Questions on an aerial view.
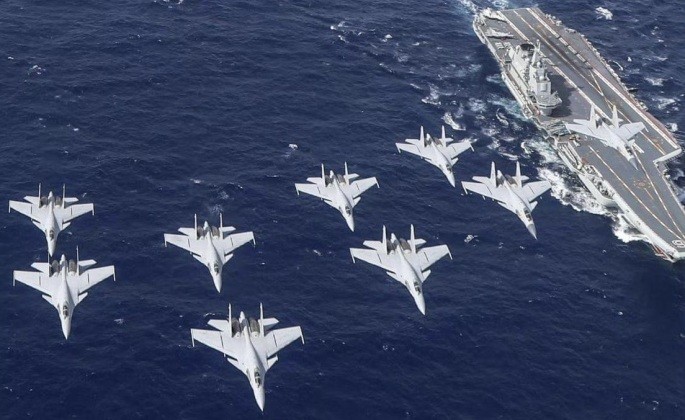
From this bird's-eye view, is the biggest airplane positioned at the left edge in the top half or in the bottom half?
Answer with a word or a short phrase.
bottom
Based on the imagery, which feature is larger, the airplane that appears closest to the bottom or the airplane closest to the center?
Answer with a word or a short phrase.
the airplane that appears closest to the bottom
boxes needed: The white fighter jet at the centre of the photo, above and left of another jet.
[295,160,379,231]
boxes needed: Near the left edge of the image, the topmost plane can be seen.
[8,182,94,255]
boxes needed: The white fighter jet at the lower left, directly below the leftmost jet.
[13,245,115,339]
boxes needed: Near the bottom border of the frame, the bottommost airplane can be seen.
[190,300,304,411]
